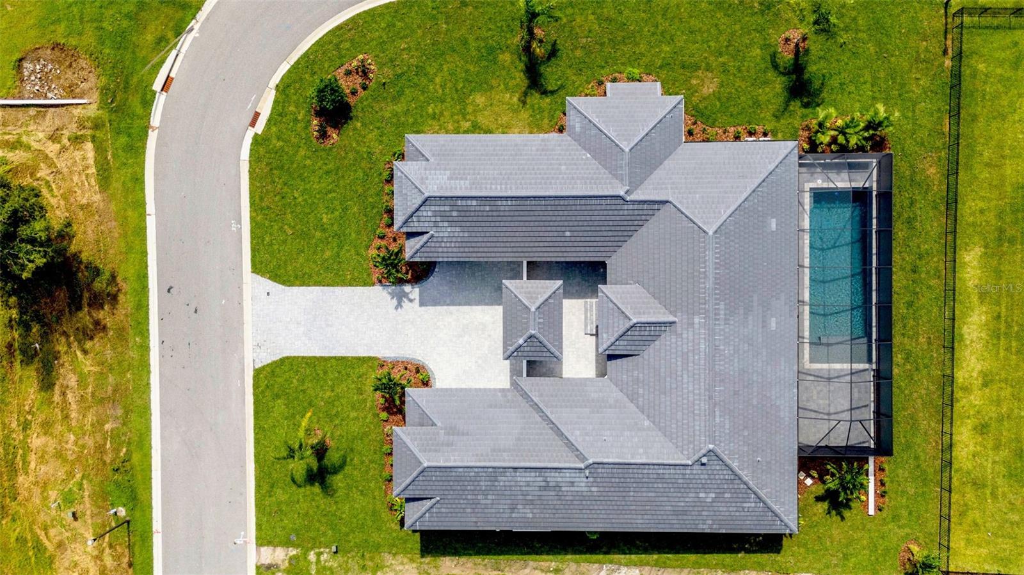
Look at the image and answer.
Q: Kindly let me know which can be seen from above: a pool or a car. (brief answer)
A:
pool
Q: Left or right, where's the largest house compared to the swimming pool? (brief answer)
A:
to the left of it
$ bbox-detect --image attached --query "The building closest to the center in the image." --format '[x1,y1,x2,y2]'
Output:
[500,278,564,362]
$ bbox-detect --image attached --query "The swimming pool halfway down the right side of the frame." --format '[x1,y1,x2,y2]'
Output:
[804,160,876,370]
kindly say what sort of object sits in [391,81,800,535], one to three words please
house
